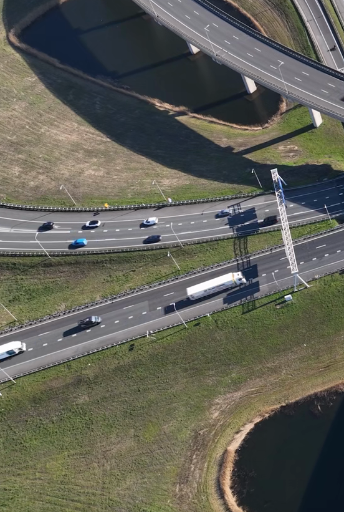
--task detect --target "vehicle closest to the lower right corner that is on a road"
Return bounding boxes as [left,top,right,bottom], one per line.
[184,272,247,300]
